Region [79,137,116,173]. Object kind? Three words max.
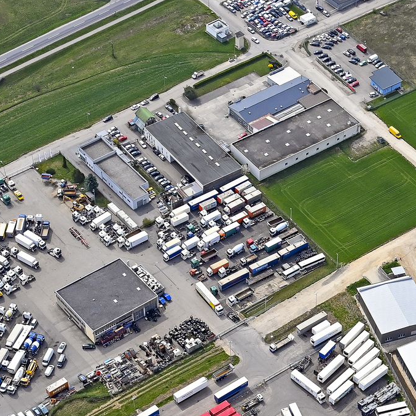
building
